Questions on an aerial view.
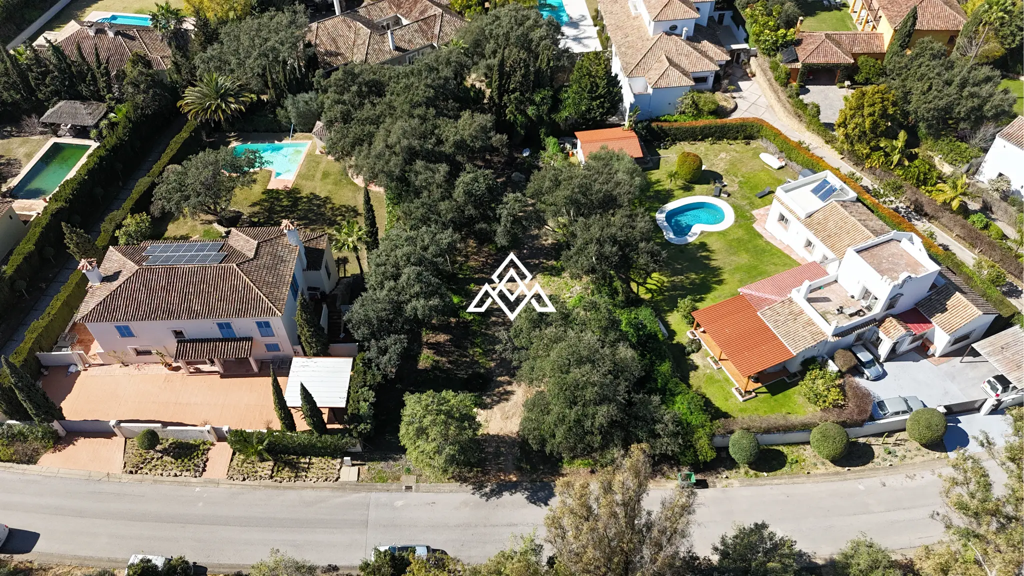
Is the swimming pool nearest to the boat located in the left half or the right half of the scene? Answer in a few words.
right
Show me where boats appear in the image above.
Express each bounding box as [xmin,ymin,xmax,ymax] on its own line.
[758,150,785,168]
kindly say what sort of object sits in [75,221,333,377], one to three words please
house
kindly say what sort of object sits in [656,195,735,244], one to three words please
swimming pool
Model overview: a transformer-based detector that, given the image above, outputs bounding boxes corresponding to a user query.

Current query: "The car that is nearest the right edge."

[980,371,1018,400]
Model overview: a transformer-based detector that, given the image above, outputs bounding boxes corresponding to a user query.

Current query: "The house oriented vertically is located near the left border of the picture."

[0,193,32,262]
